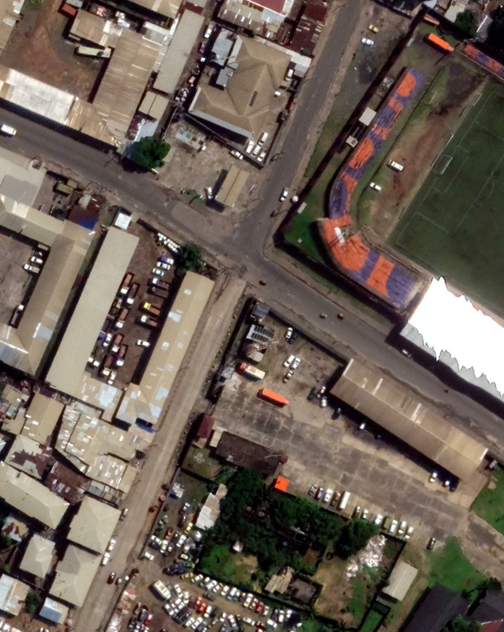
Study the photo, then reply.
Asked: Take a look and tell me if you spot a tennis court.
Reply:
No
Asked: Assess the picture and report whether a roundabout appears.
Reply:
No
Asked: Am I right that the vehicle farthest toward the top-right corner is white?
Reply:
No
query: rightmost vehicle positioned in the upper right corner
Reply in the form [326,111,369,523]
[429,32,455,52]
